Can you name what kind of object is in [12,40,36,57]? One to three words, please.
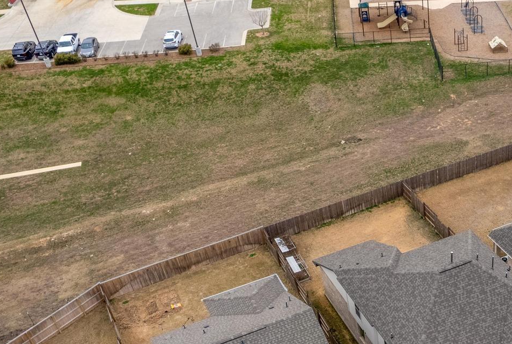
car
